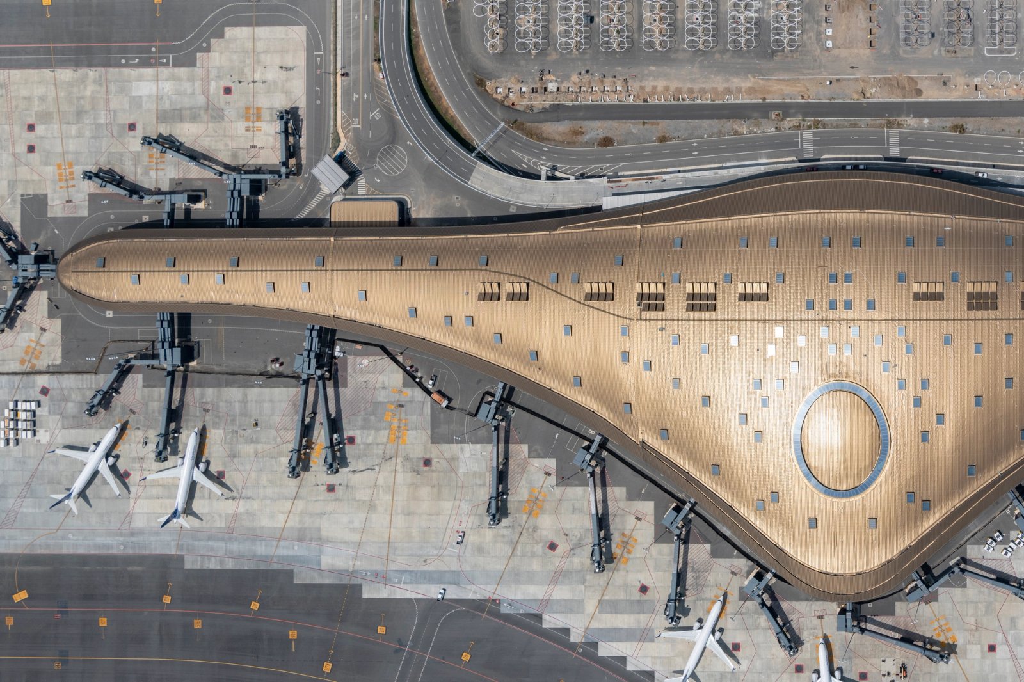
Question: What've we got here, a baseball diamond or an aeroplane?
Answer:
aeroplane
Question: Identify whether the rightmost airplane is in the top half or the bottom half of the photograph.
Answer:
bottom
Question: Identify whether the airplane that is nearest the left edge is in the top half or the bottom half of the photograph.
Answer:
bottom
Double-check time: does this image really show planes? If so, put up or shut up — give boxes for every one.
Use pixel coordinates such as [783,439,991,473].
[136,428,224,529]
[43,423,123,515]
[811,638,845,682]
[655,596,737,682]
